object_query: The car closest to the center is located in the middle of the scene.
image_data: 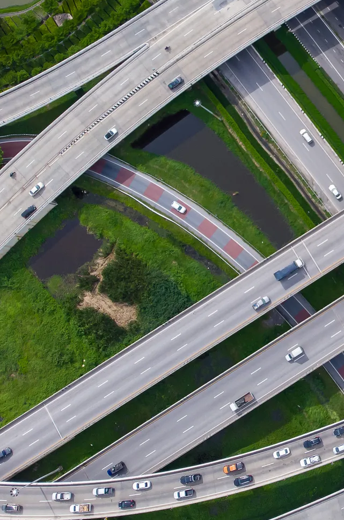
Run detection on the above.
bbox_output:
[171,200,187,214]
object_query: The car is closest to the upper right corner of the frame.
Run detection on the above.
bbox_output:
[299,128,314,144]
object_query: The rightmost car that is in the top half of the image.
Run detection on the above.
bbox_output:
[328,185,342,200]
